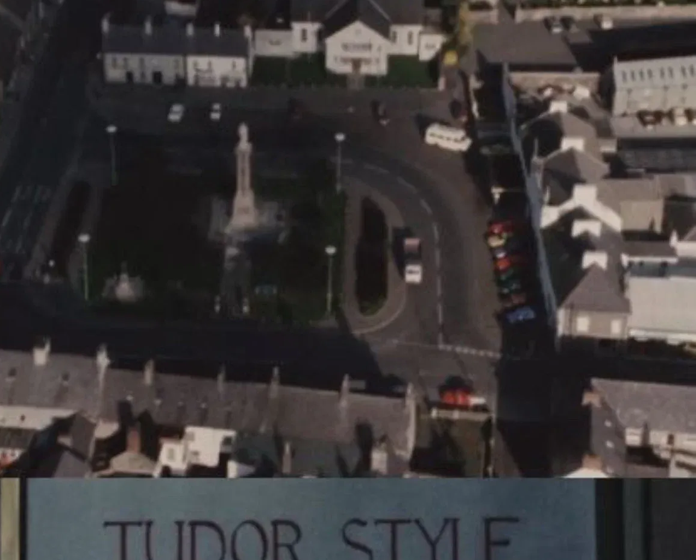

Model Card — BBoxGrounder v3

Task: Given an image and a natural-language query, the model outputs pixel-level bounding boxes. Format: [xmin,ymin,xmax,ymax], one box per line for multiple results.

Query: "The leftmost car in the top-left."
[166,103,184,119]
